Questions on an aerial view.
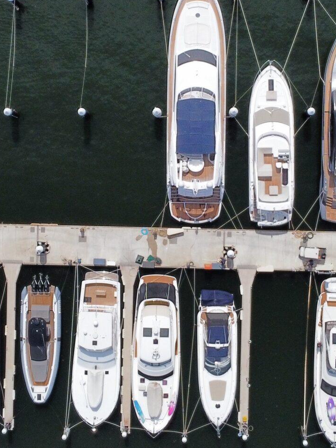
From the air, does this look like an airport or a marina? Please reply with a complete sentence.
What you see here is a marina.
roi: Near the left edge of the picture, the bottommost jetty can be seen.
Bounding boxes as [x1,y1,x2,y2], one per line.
[2,258,23,432]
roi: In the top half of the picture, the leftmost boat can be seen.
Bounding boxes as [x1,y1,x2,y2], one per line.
[166,0,228,223]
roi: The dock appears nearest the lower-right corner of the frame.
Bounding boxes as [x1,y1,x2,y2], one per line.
[236,265,257,433]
